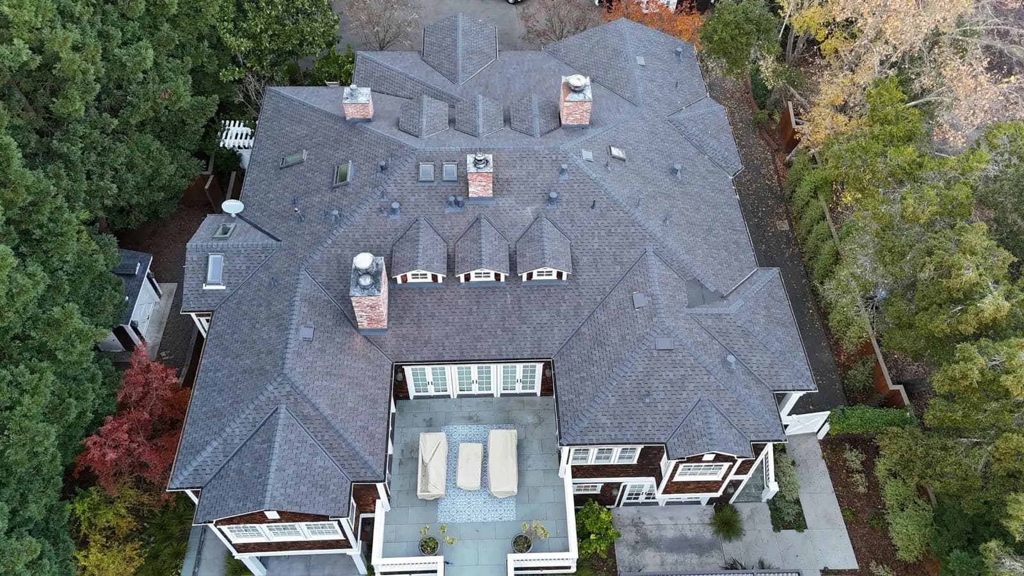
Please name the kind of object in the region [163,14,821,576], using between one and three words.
house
